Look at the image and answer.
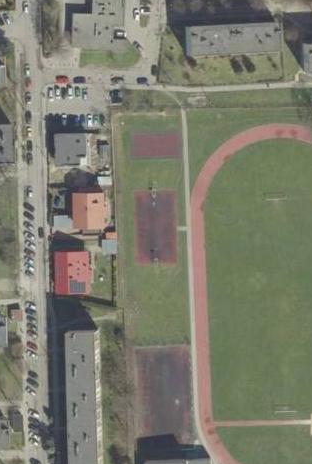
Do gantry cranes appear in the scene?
No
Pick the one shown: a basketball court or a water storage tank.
basketball court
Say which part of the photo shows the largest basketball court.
bottom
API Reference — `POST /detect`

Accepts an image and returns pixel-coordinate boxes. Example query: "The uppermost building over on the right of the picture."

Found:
[186,22,282,59]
